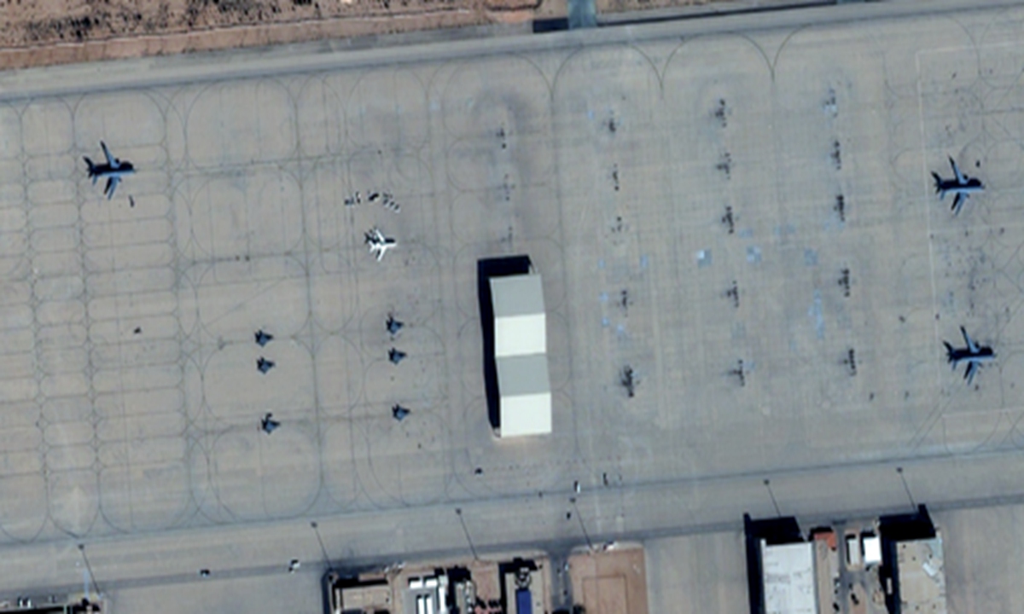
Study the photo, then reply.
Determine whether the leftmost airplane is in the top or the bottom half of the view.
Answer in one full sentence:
You can find the leftmost airplane in the top half.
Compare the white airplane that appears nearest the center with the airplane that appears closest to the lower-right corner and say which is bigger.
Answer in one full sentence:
The airplane that appears closest to the lower-right corner is bigger than the white airplane that appears nearest the center.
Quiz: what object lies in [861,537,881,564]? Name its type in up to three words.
building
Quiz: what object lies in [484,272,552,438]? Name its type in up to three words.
hangar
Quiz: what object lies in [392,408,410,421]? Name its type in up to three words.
airplane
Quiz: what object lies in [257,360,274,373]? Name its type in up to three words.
airplane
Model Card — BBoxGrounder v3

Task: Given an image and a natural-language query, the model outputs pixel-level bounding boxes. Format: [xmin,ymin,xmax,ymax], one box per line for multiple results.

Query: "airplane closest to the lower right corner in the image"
[952,332,997,380]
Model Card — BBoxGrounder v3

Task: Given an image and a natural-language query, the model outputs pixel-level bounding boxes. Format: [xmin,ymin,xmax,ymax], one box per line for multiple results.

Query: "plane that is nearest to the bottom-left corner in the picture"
[262,419,279,433]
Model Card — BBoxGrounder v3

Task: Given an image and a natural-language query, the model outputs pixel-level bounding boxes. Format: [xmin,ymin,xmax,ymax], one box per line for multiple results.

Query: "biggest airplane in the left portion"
[91,149,138,199]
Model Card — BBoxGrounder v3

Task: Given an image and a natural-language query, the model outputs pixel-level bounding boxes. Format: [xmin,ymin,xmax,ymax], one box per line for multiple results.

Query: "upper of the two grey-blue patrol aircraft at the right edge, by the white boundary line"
[941,163,986,212]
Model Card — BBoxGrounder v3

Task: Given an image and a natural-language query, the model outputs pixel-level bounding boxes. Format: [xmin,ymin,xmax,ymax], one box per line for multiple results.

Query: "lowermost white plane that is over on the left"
[368,230,397,263]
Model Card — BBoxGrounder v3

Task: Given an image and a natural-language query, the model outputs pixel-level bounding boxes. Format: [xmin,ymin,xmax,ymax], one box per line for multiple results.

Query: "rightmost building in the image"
[882,529,946,614]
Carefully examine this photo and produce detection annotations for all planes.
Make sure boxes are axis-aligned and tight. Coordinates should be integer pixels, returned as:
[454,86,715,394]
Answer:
[392,408,410,421]
[385,319,403,333]
[262,419,279,433]
[257,360,274,373]
[91,149,138,199]
[941,163,986,212]
[254,333,272,347]
[368,230,397,263]
[388,351,407,364]
[952,332,997,380]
